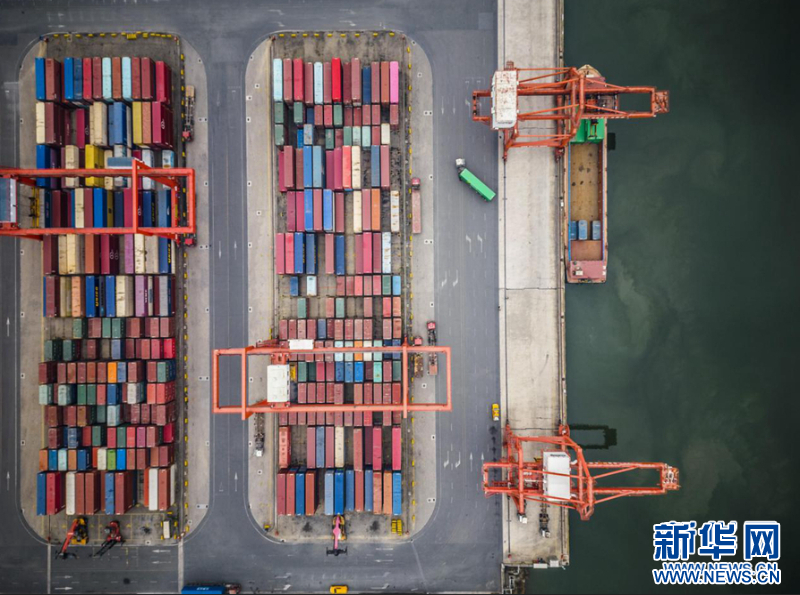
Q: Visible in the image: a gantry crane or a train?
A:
gantry crane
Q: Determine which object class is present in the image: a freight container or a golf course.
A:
freight container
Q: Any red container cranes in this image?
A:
Yes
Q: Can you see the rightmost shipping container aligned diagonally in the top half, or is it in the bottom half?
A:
top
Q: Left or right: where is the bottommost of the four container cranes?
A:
right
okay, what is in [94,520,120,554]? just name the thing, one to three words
work vehicle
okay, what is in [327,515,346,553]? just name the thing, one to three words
work vehicle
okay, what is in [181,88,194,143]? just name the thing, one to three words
vehicle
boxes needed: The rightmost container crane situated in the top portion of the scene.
[471,53,665,166]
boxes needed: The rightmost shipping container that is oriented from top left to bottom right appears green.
[459,169,495,201]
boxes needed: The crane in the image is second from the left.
[212,329,452,422]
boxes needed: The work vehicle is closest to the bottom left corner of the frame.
[55,515,88,557]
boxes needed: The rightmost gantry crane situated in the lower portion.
[481,417,679,520]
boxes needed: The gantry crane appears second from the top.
[0,157,196,254]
